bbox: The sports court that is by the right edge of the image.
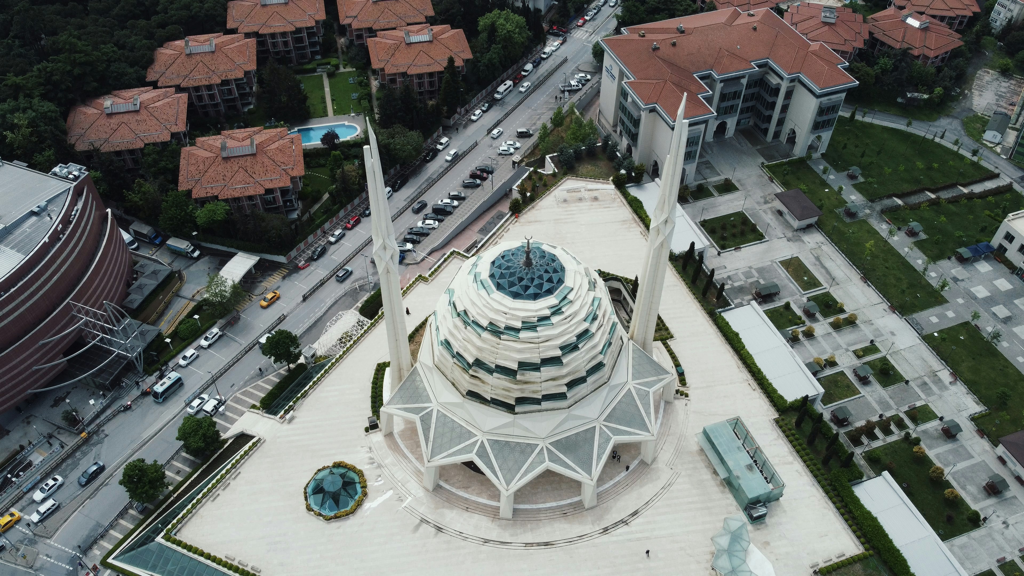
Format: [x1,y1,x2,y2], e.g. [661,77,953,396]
[973,69,1024,119]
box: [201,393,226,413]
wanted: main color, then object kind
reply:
white vehicle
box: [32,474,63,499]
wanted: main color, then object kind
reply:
white car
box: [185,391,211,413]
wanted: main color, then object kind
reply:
white car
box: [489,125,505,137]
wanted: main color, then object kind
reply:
white vehicle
